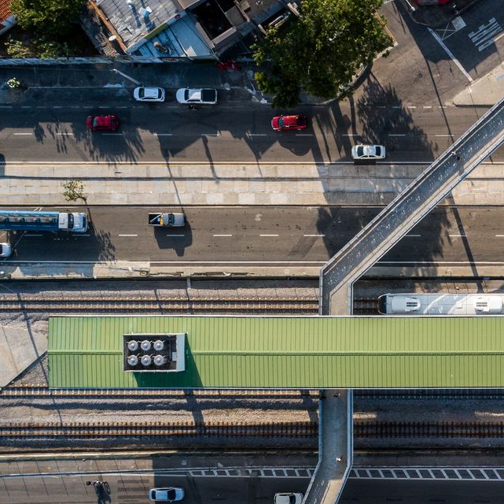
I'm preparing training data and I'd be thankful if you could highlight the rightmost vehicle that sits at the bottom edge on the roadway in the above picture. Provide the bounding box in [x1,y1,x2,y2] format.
[273,490,304,504]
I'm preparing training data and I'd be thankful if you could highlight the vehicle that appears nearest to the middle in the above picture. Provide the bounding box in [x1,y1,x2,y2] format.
[149,211,187,227]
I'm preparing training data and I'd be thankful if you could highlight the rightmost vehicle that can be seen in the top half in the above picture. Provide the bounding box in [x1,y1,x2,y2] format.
[352,143,386,160]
